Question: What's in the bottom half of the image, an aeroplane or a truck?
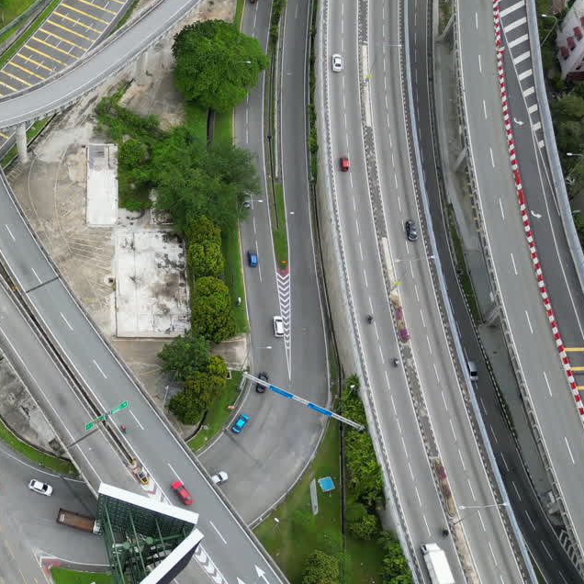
truck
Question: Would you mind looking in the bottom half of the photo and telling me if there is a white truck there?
Yes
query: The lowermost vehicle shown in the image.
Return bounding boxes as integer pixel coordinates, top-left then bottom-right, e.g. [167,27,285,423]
[419,538,461,584]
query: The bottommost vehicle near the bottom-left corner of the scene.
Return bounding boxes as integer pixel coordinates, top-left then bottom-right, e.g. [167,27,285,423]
[55,506,94,531]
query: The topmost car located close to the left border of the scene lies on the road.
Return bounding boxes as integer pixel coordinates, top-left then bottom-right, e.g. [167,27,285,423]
[28,477,55,496]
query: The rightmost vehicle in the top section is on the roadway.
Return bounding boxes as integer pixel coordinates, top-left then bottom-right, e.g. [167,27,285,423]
[403,219,418,241]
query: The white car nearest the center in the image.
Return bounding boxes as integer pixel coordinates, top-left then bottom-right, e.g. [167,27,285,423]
[272,316,285,338]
